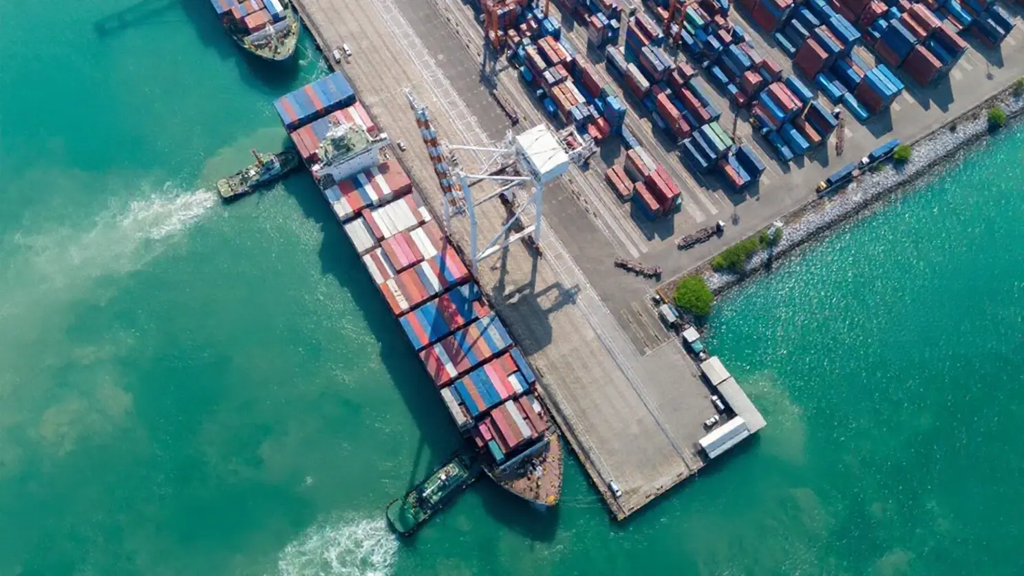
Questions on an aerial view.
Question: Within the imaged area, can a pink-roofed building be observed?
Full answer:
No, the picture doesn't show any pink-roofed building.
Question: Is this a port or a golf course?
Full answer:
This looks like a port.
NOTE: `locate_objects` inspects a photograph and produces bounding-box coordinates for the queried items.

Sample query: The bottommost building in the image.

[695,414,751,463]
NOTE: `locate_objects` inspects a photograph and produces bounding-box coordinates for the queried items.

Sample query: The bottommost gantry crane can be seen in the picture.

[406,92,601,281]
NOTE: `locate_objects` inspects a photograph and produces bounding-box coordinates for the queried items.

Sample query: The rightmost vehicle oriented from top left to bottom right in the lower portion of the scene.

[708,393,727,414]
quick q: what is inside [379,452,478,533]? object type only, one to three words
boat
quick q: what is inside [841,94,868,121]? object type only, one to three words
shipping container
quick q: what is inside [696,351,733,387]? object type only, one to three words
shed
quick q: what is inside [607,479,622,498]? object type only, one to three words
vehicle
